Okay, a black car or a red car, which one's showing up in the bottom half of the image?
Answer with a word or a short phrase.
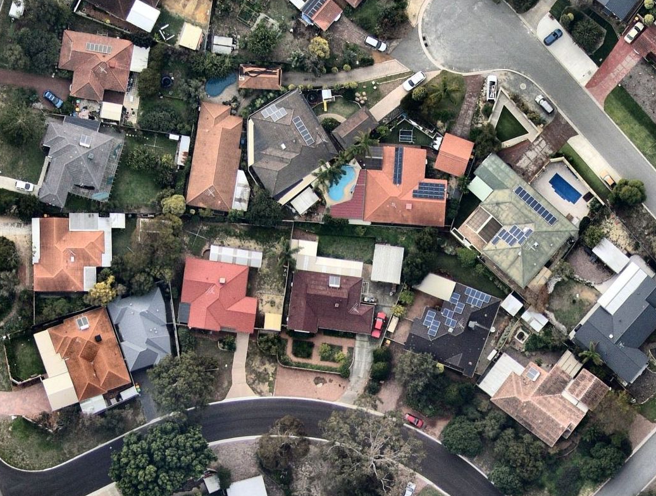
red car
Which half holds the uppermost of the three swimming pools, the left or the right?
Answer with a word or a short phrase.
left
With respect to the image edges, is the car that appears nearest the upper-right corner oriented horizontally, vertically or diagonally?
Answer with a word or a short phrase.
diagonally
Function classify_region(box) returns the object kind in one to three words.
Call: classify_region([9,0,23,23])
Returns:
vehicle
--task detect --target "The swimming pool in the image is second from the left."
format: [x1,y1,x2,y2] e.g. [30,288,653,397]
[329,165,358,203]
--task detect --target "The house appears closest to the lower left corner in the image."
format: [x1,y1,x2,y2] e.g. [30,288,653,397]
[34,306,138,414]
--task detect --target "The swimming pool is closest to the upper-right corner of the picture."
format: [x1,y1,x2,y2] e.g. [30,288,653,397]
[549,173,582,204]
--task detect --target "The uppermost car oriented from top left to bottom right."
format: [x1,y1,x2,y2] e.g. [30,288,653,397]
[364,34,389,53]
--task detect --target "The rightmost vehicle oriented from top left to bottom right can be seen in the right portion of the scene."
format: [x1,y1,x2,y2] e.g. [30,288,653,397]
[599,170,618,190]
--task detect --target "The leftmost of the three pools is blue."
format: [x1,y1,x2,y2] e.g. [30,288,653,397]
[206,76,231,98]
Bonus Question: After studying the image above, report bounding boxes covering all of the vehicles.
[543,28,565,46]
[624,21,645,44]
[403,71,427,93]
[15,182,34,192]
[403,412,426,431]
[372,311,387,339]
[42,89,64,110]
[534,93,556,116]
[403,482,416,496]
[599,170,618,190]
[364,34,389,53]
[486,75,498,102]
